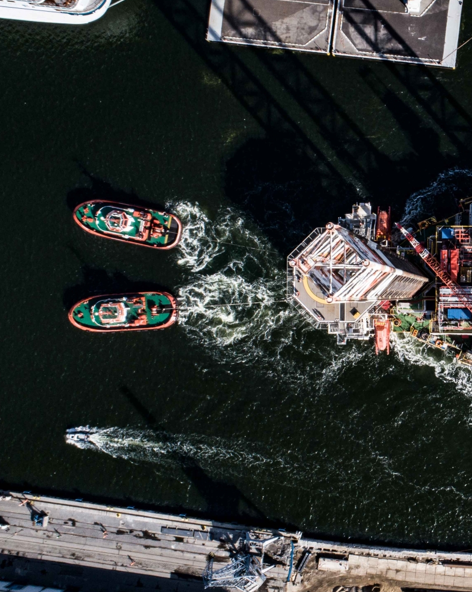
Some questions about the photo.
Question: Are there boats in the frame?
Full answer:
Yes, a boat appears in the view.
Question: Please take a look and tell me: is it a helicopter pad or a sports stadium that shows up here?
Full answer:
Visible in the photo is a helicopter pad.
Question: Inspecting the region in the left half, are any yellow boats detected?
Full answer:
No, in the left half there is no yellow boat.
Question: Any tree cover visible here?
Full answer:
No, there is no tree cover in the image.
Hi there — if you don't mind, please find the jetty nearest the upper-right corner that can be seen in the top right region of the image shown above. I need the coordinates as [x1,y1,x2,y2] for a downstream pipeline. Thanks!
[332,0,463,71]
